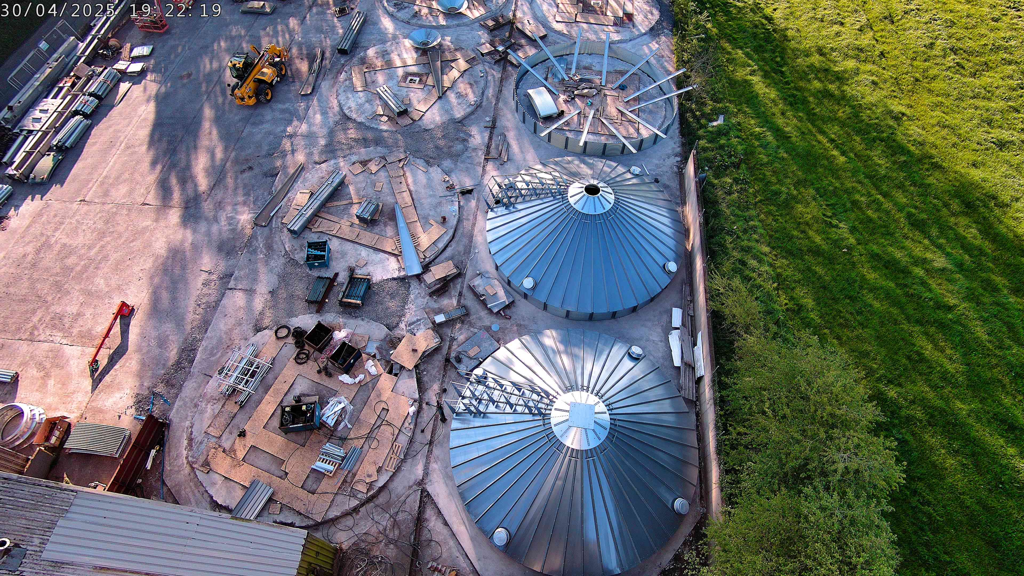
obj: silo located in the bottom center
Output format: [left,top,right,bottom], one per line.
[447,325,702,576]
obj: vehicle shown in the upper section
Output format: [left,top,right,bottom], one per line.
[220,42,288,105]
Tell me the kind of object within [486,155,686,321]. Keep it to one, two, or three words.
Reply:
silo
